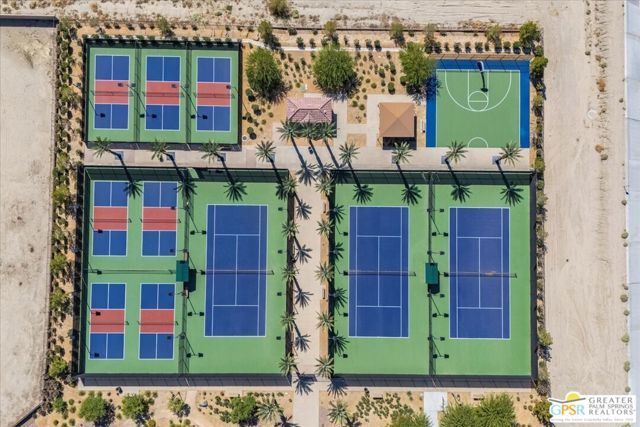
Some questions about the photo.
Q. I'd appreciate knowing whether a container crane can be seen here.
No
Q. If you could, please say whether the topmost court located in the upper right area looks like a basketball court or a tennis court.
basketball court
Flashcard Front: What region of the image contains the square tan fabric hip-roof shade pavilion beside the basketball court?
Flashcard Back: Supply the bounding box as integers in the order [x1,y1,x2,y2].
[379,103,415,138]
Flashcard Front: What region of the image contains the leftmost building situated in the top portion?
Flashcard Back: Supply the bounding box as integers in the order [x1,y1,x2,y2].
[288,98,332,124]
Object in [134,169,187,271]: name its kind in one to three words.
sports court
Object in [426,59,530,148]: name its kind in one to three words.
basketball court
